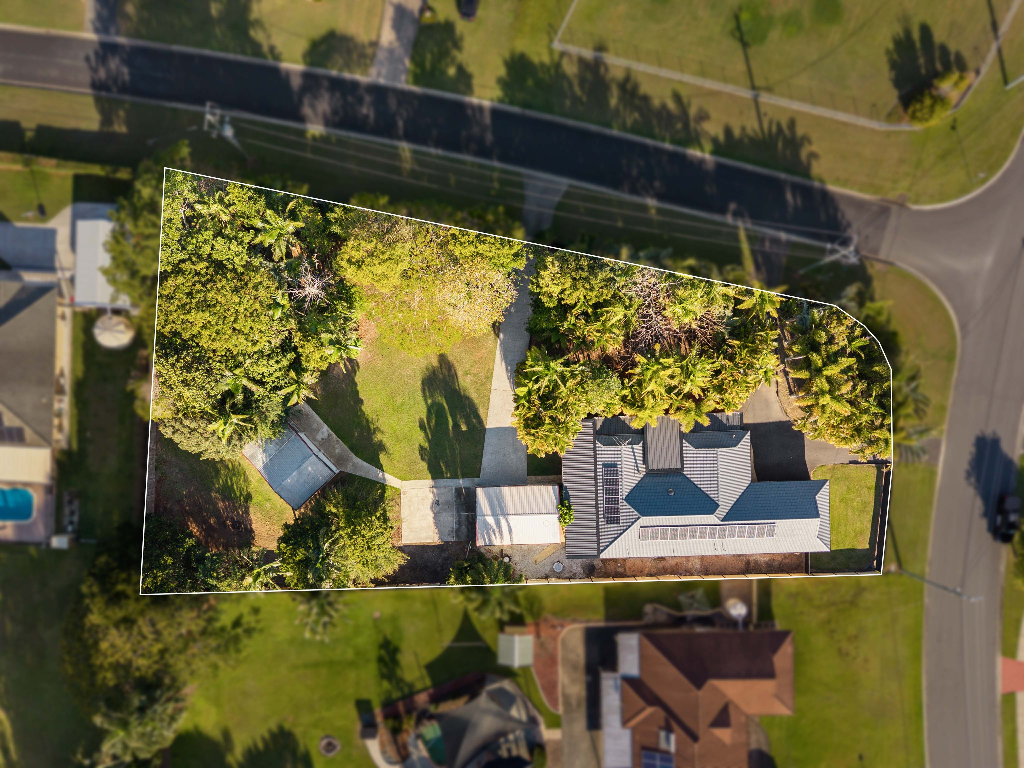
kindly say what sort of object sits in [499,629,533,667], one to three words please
shed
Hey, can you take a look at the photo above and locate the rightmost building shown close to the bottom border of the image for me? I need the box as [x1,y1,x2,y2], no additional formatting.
[601,627,794,768]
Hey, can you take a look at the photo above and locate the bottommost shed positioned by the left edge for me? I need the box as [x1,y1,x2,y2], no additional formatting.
[50,533,76,550]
